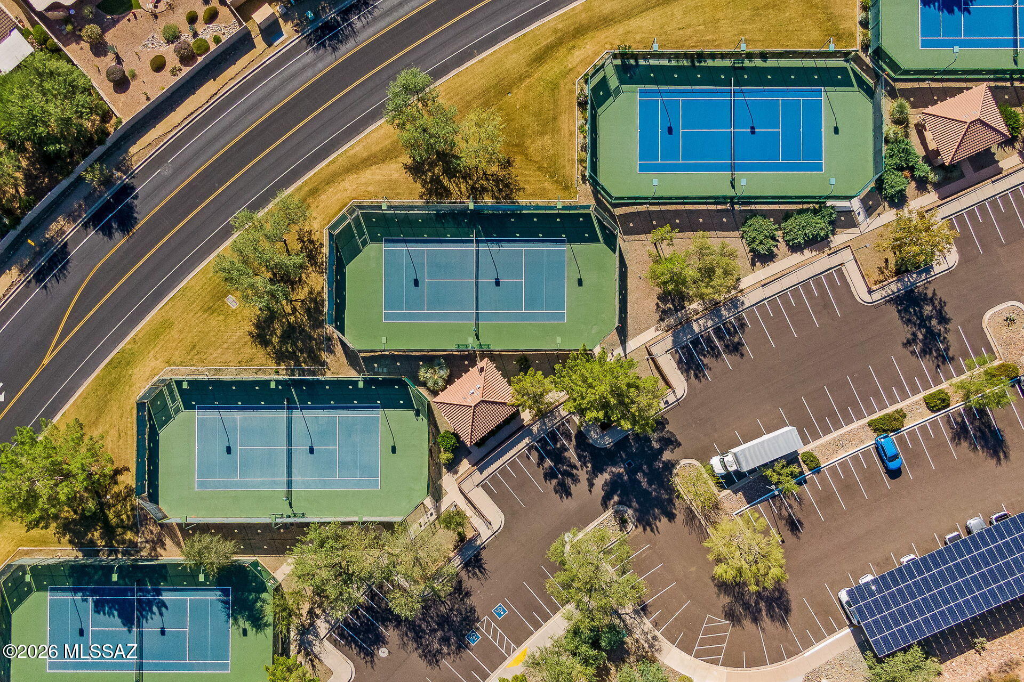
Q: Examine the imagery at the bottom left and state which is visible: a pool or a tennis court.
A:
tennis court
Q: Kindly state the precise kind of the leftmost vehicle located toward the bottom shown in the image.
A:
truck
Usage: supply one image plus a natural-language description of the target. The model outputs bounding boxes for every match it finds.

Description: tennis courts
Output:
[0,558,281,682]
[869,0,1024,78]
[587,58,873,202]
[147,376,432,518]
[335,210,615,350]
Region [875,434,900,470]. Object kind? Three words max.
car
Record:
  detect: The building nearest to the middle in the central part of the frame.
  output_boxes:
[433,359,520,446]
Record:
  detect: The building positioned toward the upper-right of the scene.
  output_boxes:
[915,82,1012,165]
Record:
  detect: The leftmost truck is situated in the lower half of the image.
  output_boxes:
[707,426,809,476]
